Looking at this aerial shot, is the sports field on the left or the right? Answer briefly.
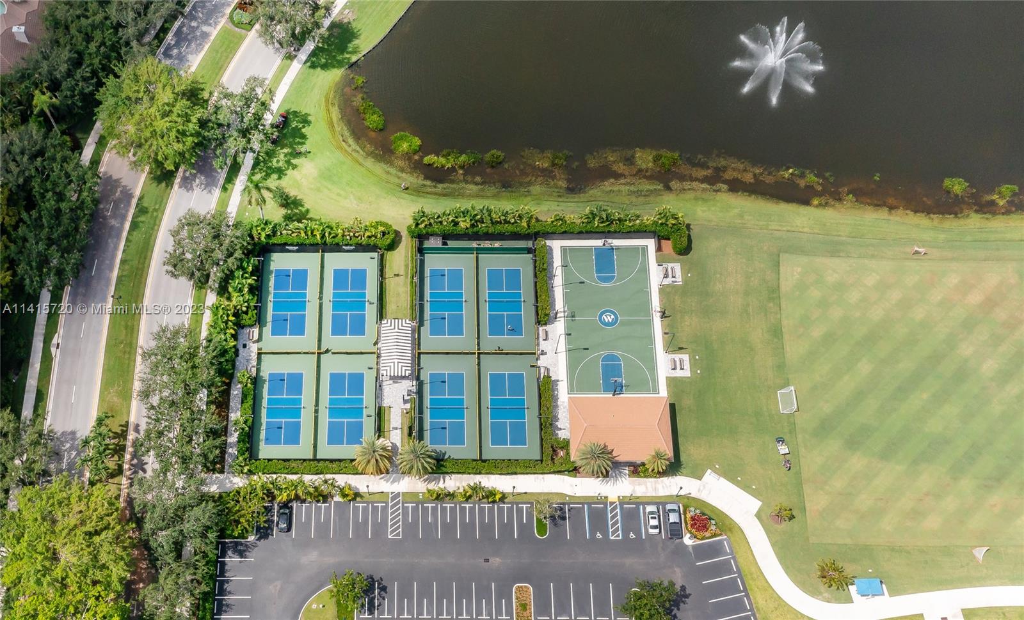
right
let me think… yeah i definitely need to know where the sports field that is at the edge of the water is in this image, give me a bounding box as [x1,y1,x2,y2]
[780,254,1024,547]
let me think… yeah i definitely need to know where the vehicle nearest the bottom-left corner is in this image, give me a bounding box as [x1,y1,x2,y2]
[277,506,291,535]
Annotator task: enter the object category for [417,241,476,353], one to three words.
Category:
sports court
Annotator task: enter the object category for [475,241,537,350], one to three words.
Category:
sports court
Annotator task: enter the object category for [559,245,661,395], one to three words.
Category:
basketball court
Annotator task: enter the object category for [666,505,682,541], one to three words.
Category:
vehicle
